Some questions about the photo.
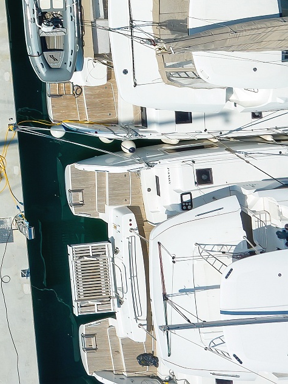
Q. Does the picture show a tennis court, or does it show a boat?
boat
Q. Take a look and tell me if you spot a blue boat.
No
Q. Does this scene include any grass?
No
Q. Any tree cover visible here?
No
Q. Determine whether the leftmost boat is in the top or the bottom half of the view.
top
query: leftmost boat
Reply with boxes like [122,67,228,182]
[23,0,104,83]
